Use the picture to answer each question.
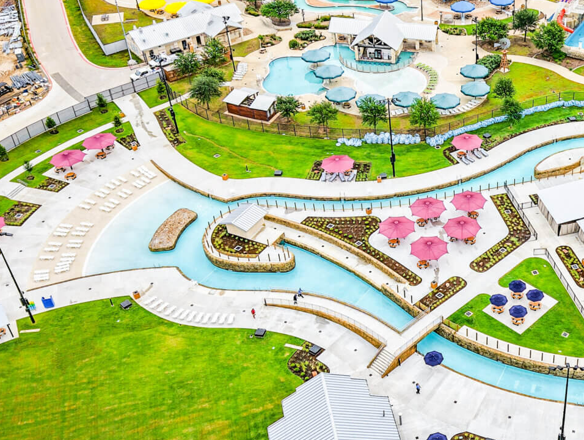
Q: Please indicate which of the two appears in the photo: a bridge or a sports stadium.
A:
bridge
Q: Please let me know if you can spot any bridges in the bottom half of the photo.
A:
Yes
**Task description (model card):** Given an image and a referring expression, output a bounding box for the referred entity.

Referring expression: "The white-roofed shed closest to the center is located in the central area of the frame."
[219,203,266,243]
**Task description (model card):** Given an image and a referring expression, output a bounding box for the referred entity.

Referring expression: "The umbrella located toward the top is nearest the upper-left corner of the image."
[138,0,168,16]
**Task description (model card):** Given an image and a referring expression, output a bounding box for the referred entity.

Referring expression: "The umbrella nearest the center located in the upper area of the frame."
[321,156,355,180]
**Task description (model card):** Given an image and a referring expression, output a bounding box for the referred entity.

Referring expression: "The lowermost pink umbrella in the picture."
[409,237,449,267]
